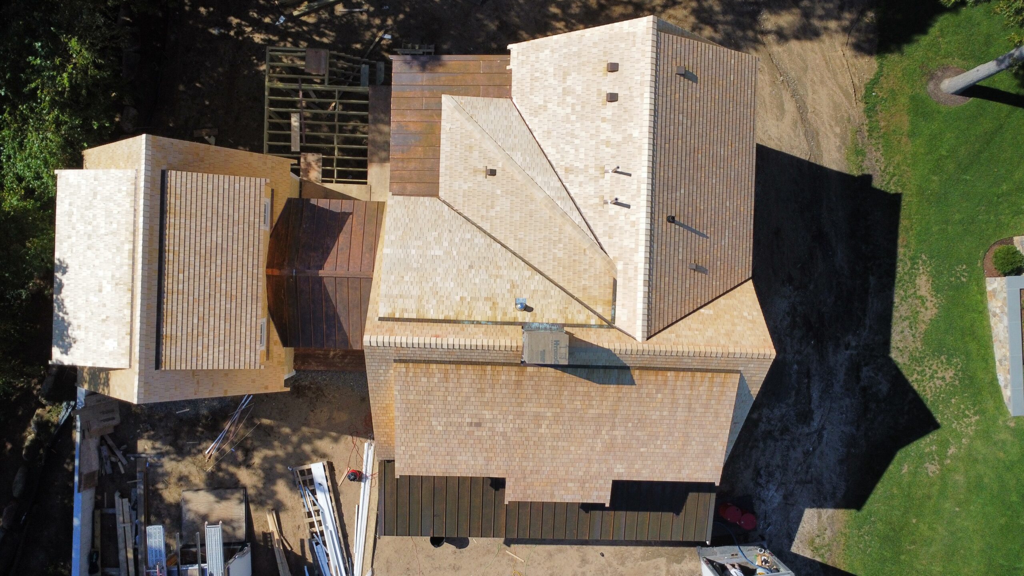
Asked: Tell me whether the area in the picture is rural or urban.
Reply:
urban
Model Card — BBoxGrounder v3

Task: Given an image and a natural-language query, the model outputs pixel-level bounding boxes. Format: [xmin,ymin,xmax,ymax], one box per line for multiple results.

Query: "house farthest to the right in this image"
[364,16,776,546]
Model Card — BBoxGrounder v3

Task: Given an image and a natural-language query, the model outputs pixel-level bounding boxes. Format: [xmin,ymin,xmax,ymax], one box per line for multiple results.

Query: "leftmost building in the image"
[46,135,302,402]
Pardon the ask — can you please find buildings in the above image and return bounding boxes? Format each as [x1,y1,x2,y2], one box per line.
[364,16,776,546]
[46,135,302,402]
